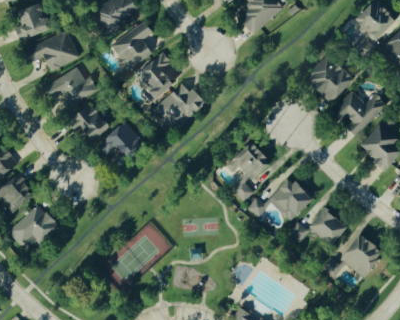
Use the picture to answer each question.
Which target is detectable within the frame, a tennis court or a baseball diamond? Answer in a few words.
tennis court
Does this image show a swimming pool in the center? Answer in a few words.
Yes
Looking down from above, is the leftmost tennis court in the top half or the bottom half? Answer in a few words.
bottom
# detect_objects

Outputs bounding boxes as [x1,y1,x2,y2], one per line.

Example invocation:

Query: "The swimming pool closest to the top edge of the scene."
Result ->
[344,19,362,46]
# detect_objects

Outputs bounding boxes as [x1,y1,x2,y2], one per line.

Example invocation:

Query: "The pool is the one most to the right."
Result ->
[362,81,382,97]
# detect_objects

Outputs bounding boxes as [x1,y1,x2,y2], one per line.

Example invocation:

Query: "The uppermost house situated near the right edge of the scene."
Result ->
[362,2,394,43]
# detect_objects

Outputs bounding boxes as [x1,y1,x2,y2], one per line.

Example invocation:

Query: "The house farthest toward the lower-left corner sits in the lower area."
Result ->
[13,206,61,248]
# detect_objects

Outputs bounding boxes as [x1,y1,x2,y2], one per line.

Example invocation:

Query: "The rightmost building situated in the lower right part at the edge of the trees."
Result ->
[344,236,383,278]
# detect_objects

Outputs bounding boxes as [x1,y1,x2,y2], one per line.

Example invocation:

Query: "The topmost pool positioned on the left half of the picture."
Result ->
[103,52,118,70]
